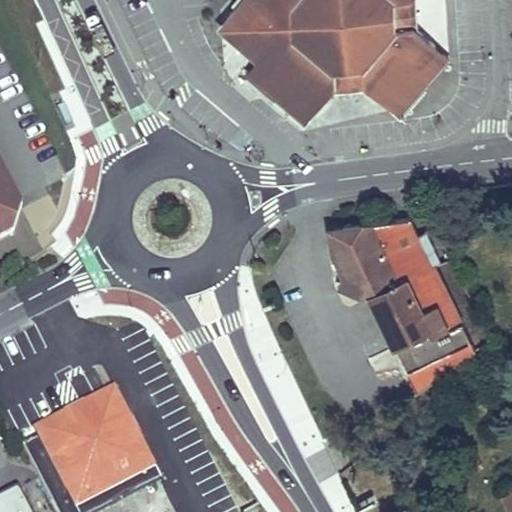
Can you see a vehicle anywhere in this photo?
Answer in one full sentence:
Yes, the image includes a vehicle.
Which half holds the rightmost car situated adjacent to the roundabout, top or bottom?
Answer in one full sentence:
The rightmost car situated adjacent to the roundabout sits in the top half of the picture.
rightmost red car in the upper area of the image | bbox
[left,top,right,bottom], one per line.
[28,135,48,150]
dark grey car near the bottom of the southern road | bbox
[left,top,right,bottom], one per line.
[278,468,296,490]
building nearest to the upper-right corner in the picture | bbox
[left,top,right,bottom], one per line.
[218,0,450,126]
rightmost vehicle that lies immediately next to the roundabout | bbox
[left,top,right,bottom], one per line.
[291,152,312,172]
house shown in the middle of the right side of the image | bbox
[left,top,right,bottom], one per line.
[327,222,476,394]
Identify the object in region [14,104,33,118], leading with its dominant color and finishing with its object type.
white vehicle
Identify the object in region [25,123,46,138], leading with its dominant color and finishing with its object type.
white car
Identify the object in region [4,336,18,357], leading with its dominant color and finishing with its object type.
white car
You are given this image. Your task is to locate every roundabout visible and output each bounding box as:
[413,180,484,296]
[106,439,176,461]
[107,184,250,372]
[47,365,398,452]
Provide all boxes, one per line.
[78,125,296,325]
